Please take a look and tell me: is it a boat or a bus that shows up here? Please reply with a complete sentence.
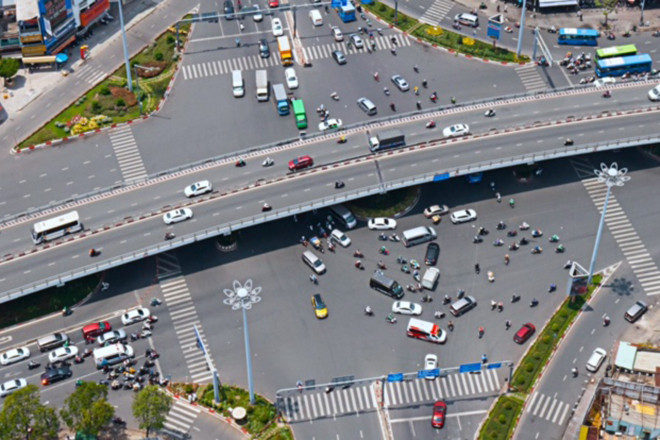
Of the two, only a bus appears.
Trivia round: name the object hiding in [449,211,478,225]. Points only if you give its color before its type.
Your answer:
white car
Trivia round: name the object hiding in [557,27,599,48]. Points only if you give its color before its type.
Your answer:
blue bus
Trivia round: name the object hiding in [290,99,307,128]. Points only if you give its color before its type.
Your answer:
green vehicle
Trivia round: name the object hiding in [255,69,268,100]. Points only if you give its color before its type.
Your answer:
white vehicle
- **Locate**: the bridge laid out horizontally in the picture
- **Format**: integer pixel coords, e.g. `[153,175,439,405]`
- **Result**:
[0,75,660,305]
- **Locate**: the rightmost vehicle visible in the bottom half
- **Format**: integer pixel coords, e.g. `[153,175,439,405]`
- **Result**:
[623,301,649,323]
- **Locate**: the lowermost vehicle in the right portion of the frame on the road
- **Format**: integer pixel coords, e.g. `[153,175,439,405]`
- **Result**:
[432,402,447,429]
